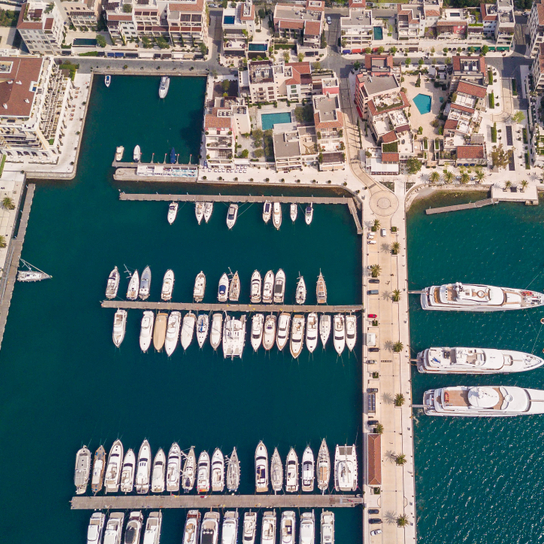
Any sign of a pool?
Yes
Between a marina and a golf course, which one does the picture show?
marina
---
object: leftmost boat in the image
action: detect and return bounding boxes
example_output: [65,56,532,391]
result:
[19,260,53,282]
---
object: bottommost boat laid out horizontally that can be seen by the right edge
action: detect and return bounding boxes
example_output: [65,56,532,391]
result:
[410,386,544,416]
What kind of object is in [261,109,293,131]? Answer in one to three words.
swimming pool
